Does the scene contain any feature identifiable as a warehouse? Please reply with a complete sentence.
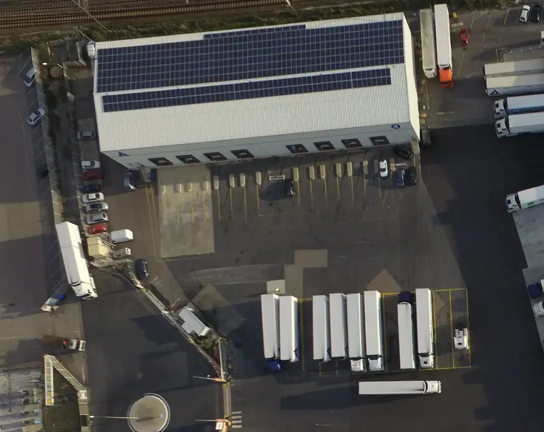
Yes, the photo shows a warehouse.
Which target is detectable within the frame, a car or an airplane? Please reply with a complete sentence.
Of the two, only a car appears.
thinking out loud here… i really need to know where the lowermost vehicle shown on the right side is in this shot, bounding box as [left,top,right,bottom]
[358,380,442,395]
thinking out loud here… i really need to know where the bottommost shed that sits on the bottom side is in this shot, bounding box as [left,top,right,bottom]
[179,307,215,338]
